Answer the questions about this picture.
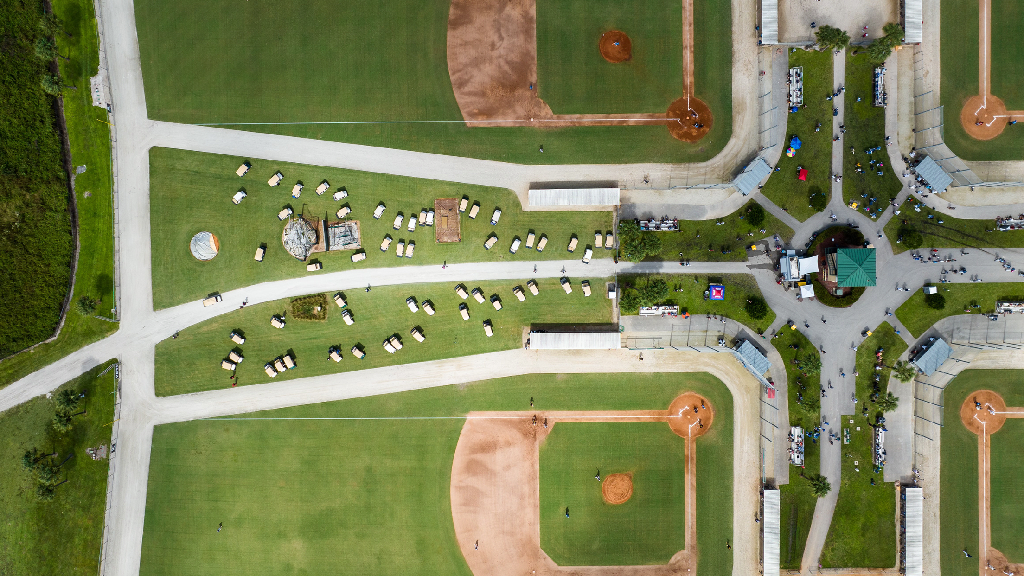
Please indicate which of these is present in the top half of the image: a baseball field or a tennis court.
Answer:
baseball field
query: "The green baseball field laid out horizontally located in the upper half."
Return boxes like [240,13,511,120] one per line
[133,0,732,165]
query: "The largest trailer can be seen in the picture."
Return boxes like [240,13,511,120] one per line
[775,251,803,287]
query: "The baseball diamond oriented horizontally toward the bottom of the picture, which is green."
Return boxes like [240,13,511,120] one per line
[139,372,734,576]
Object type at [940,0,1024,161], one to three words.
baseball field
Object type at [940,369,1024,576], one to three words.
baseball field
